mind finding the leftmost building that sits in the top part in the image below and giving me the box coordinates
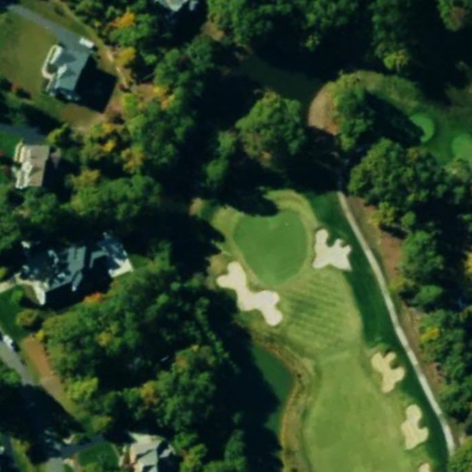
[16,142,52,184]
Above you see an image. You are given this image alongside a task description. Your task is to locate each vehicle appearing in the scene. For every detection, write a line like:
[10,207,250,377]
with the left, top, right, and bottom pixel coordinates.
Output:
[81,38,95,48]
[4,333,14,344]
